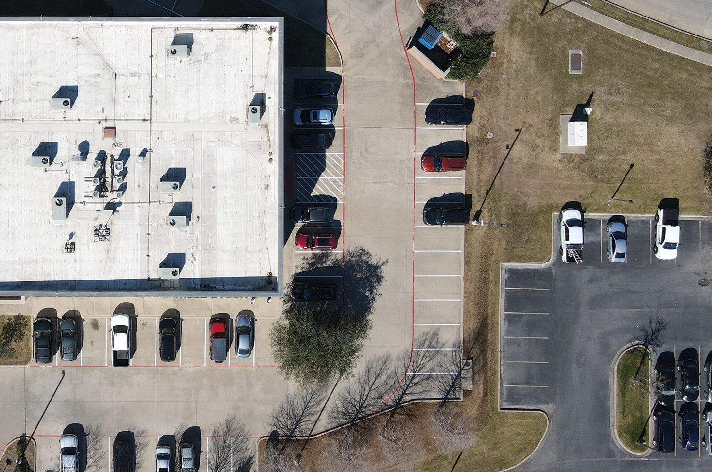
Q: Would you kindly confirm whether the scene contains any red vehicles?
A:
Yes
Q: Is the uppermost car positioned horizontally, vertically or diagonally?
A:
horizontally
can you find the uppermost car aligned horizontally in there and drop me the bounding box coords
[293,78,338,100]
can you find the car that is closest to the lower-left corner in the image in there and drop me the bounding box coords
[58,433,80,472]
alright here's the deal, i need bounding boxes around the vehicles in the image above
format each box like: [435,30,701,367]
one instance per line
[420,153,466,174]
[209,318,228,365]
[234,314,254,358]
[158,318,179,362]
[291,106,333,127]
[154,445,171,472]
[293,78,338,100]
[291,205,333,225]
[32,318,53,363]
[424,107,473,127]
[110,313,132,368]
[655,208,682,260]
[654,350,679,406]
[678,407,703,451]
[678,347,703,402]
[422,205,470,228]
[58,433,80,472]
[605,222,629,262]
[560,208,587,263]
[291,132,335,151]
[703,408,712,454]
[112,440,133,472]
[290,282,337,301]
[178,442,197,472]
[653,409,679,453]
[57,318,78,361]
